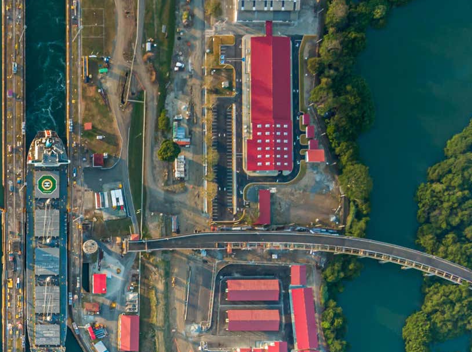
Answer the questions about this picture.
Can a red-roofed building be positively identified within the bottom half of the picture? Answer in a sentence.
Yes, looking within the bottom half of the picture, one can make out a red-roofed building.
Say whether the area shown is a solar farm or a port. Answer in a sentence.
The picture captures a port.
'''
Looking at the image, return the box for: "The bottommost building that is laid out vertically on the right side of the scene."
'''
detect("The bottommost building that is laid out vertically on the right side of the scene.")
[288,288,319,350]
